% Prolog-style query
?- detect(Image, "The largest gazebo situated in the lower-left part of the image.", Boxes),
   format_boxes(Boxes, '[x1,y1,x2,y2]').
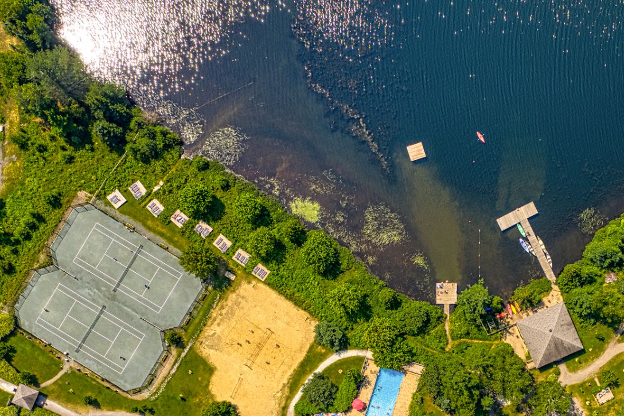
[11,385,43,411]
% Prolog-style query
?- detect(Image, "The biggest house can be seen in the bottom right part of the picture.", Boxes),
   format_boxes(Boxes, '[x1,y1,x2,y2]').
[516,302,584,369]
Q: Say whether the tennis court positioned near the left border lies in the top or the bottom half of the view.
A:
bottom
